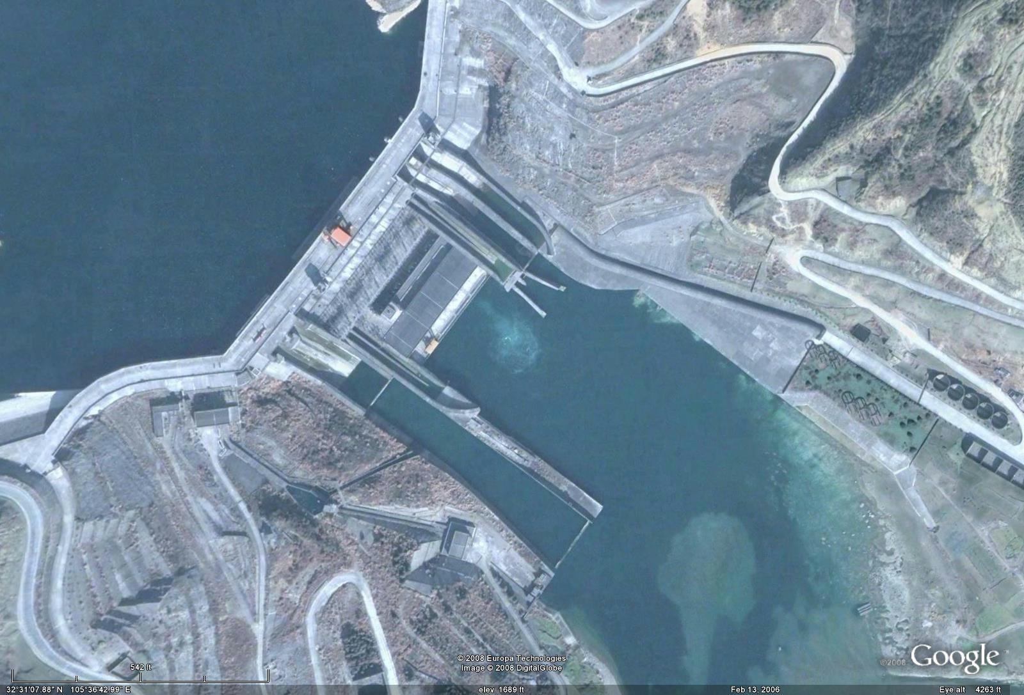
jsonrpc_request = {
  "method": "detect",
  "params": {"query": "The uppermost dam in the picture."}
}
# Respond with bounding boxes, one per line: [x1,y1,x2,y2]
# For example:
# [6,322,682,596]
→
[44,0,488,455]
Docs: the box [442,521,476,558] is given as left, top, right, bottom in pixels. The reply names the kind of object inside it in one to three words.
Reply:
house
